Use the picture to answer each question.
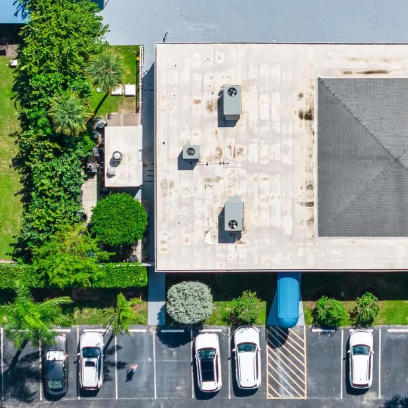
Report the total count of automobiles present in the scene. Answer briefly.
five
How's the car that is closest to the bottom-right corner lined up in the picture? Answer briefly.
from top to bottom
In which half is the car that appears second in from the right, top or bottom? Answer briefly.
bottom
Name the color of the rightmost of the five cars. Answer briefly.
white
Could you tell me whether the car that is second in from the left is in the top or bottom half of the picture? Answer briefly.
bottom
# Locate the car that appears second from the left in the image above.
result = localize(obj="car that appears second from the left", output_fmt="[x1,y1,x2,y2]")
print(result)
[76,329,105,391]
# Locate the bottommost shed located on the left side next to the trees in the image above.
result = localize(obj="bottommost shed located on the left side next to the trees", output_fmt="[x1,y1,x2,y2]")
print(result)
[104,125,149,187]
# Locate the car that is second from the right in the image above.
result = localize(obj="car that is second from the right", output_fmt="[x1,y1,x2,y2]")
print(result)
[233,326,261,389]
